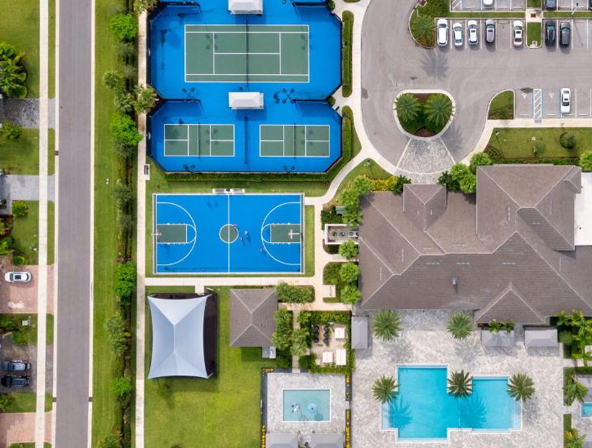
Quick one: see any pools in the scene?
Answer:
Yes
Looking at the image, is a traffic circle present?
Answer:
Yes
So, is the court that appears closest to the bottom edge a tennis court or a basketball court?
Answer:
basketball court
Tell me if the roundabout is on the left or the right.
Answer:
right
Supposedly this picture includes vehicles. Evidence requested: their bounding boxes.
[544,18,557,47]
[559,87,572,114]
[559,21,571,48]
[436,18,449,47]
[4,359,33,372]
[468,21,478,46]
[453,22,464,48]
[482,0,493,9]
[513,20,525,47]
[545,0,557,10]
[484,18,496,45]
[5,271,34,283]
[2,374,32,387]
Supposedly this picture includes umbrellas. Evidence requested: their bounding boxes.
[323,351,333,362]
[335,327,345,338]
[336,349,346,365]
